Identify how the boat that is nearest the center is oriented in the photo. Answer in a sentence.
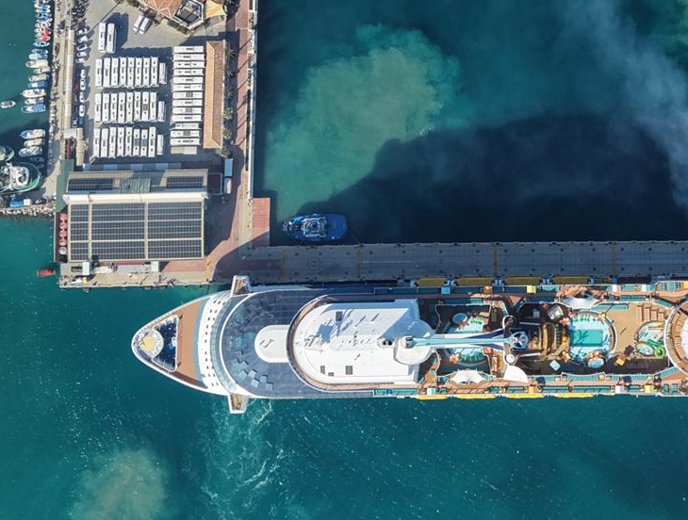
What the image shows is the boat that is nearest the center lying from left to right.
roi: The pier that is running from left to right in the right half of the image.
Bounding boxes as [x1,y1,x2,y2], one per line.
[271,240,688,283]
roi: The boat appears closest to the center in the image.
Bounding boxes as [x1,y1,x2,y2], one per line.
[281,214,349,243]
